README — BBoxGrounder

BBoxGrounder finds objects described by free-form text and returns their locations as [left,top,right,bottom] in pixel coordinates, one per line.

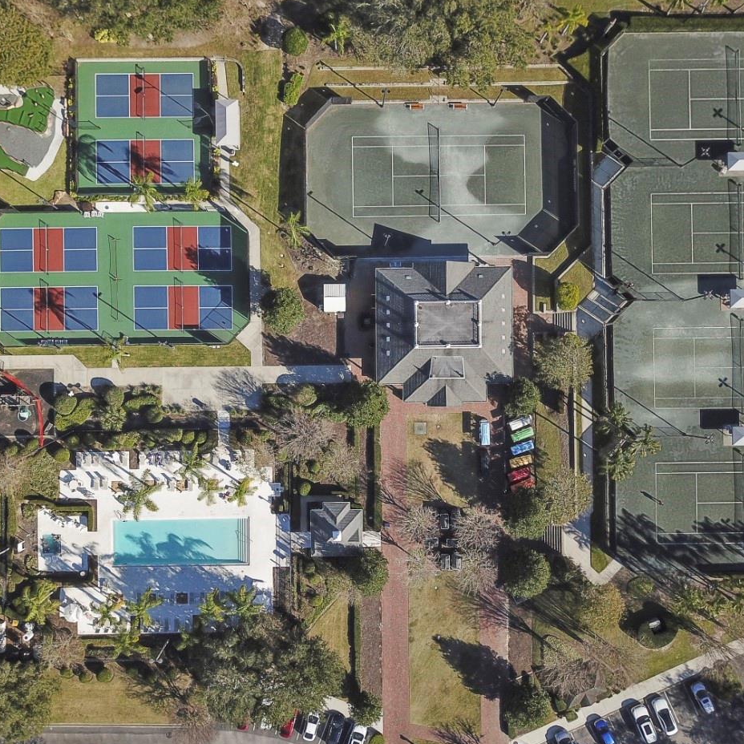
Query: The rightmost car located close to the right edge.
[689,681,714,714]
